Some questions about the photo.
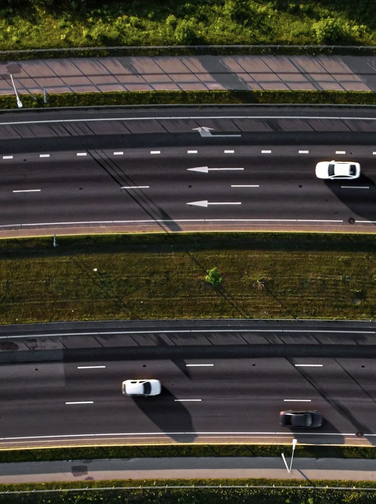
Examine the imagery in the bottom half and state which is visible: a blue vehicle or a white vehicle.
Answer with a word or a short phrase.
white vehicle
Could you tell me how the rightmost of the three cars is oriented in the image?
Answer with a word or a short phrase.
from left to right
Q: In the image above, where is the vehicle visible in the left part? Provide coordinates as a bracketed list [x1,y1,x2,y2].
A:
[122,379,161,398]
